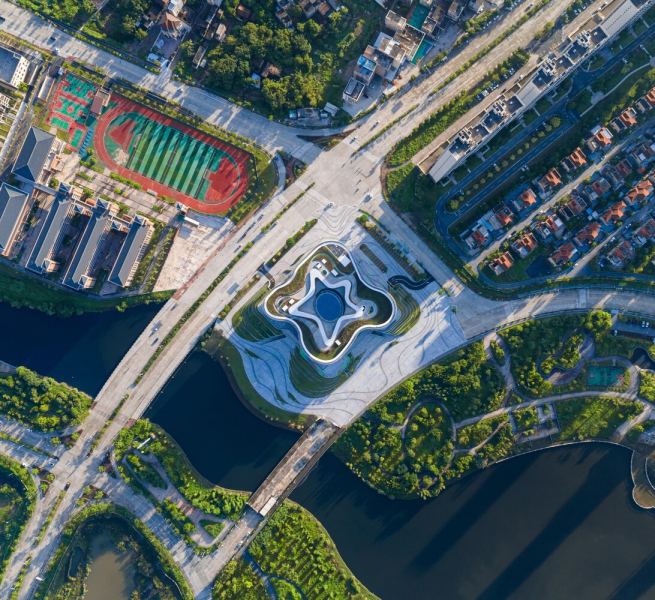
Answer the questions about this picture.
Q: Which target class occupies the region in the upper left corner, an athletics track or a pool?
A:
athletics track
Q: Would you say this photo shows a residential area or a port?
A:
residential area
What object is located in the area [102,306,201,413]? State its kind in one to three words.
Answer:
bridge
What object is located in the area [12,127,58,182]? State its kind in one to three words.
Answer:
building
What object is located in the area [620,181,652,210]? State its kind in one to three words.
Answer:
house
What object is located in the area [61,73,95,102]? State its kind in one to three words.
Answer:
basketball court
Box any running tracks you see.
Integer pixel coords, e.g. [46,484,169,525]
[96,90,255,212]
